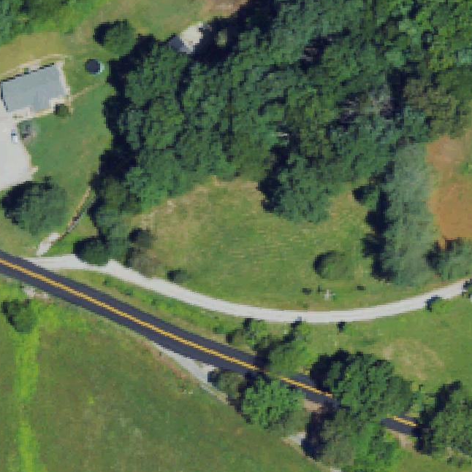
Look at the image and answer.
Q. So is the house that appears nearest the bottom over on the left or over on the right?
left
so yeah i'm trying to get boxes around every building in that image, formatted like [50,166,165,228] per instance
[0,64,67,112]
[169,35,189,57]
